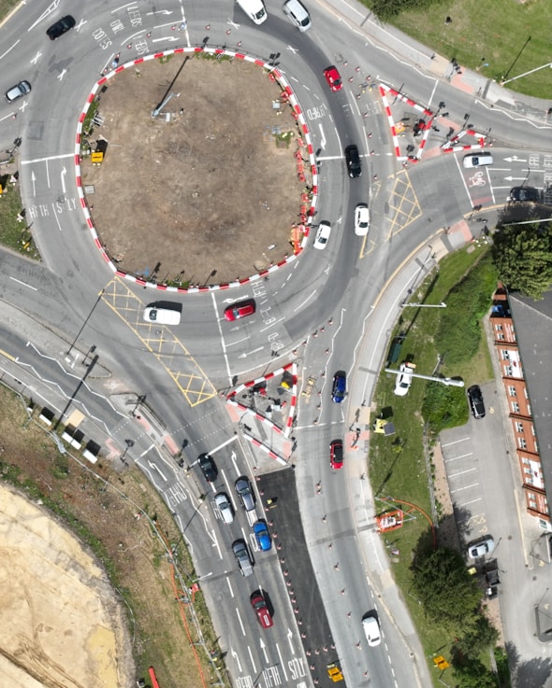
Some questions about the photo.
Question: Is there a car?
Yes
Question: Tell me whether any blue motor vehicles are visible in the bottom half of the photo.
Yes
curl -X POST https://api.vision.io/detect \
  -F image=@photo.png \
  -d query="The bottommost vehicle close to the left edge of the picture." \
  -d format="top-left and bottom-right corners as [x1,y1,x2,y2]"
[6,81,32,102]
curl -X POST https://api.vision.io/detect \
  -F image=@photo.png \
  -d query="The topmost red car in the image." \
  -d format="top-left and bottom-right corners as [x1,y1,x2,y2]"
[322,65,342,94]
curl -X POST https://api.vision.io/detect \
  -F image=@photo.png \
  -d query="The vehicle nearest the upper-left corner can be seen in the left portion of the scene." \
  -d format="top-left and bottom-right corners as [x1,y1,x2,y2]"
[46,16,75,39]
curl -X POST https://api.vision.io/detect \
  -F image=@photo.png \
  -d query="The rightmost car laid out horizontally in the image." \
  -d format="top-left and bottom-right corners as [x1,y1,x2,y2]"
[509,185,542,201]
